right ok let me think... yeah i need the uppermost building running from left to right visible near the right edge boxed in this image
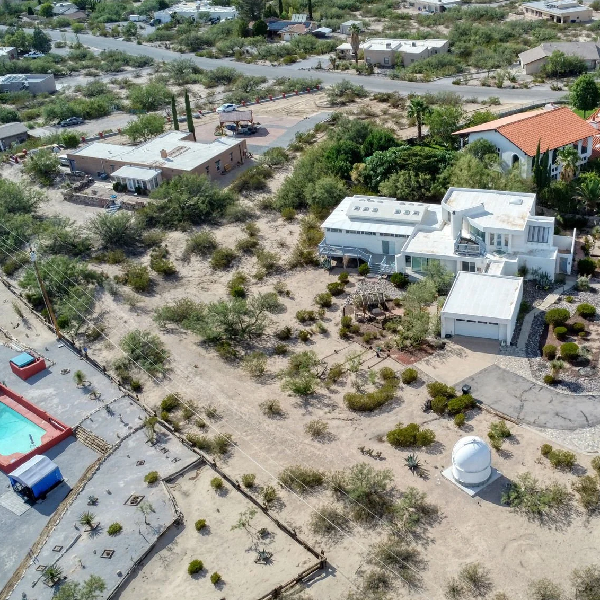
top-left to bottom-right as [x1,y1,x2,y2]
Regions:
[509,0,592,30]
